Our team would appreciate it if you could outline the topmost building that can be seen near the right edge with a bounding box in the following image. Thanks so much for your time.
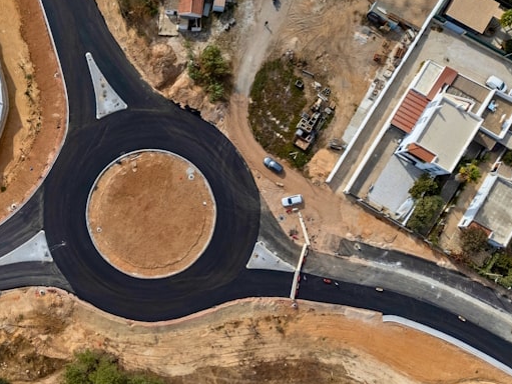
[440,0,512,36]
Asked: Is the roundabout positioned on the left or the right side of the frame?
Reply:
left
